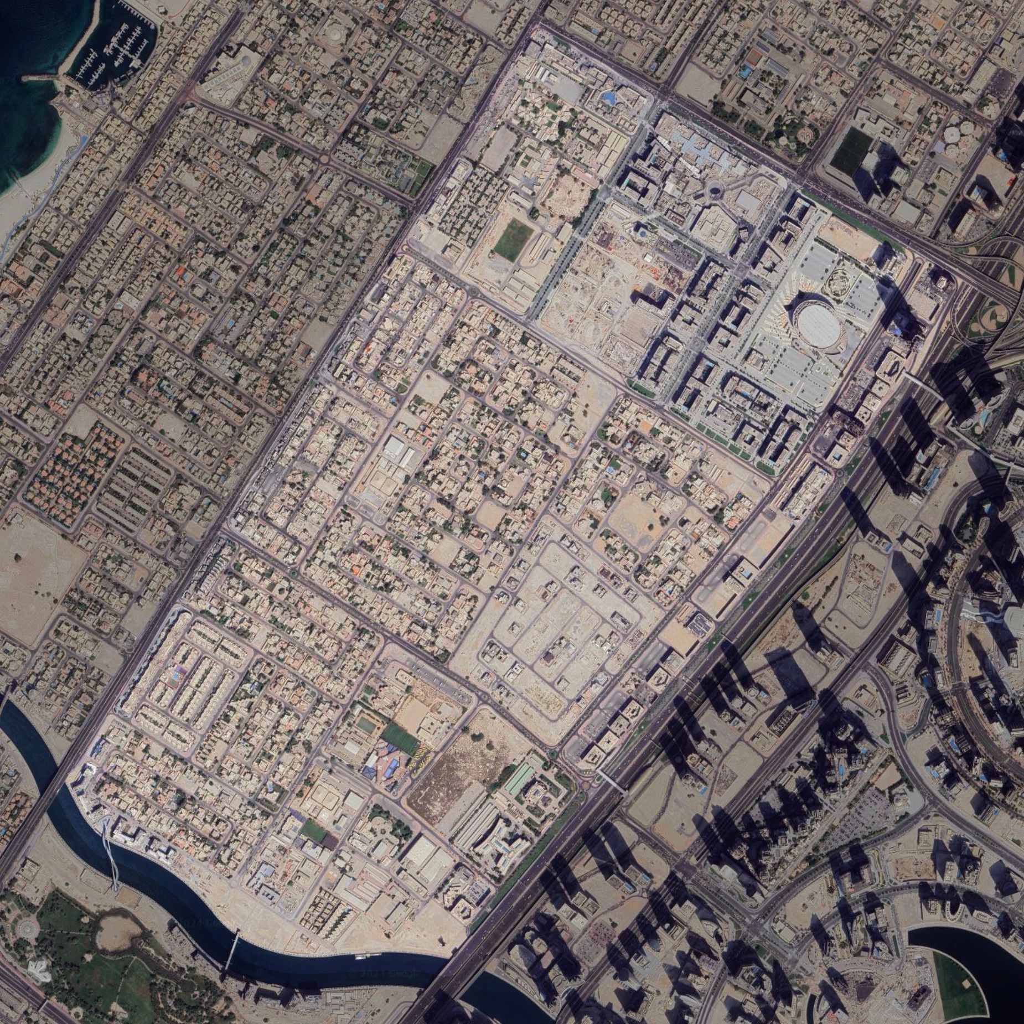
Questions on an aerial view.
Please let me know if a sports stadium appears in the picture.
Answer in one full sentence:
Yes, a sports stadium is visible in the scene.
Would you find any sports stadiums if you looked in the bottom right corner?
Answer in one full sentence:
No, there is no sports stadium in the bottom right corner.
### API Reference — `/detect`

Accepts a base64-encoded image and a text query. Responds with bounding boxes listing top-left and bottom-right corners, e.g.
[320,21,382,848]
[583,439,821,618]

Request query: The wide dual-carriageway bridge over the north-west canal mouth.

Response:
[16,726,89,835]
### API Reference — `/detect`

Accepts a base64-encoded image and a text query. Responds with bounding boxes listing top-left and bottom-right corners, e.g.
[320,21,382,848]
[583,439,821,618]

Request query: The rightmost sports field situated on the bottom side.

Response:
[381,722,418,755]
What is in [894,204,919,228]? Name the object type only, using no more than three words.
building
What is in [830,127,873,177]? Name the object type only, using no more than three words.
sports field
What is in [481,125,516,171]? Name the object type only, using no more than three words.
sports field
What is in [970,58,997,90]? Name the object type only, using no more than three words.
building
